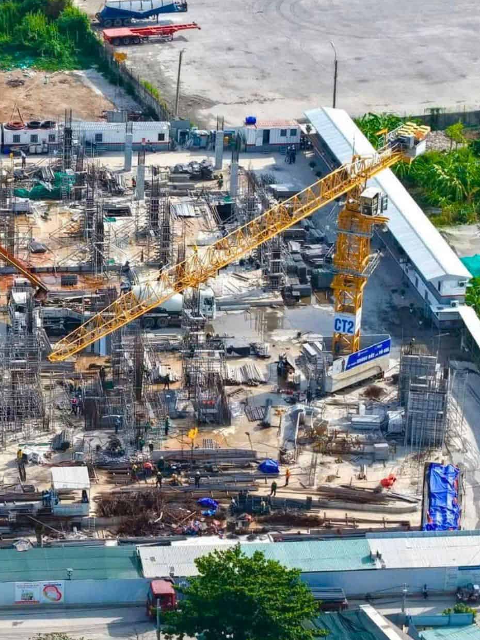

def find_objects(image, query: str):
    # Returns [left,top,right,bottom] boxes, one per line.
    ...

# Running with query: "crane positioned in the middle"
[51,132,422,384]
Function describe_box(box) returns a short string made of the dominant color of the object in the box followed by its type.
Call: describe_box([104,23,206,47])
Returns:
red trailer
